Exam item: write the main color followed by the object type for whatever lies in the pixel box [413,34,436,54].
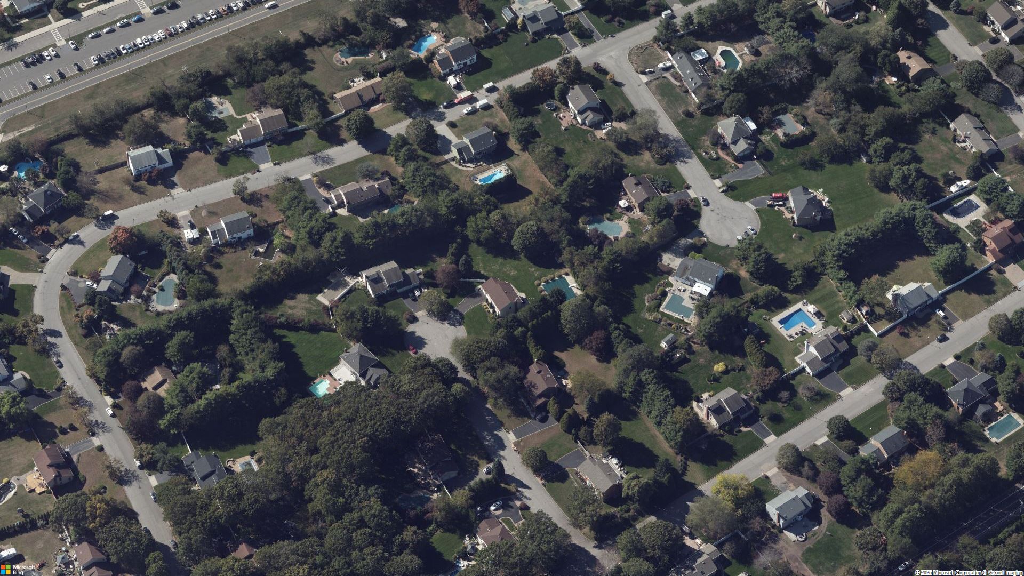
blue swimming pool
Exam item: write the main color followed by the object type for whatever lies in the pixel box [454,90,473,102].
white vehicle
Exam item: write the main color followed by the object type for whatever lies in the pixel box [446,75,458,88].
white vehicle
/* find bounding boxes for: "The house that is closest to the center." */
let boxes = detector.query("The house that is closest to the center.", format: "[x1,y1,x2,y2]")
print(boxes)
[480,275,522,318]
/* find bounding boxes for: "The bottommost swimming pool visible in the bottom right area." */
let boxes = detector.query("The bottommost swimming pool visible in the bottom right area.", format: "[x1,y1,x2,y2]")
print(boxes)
[989,414,1022,440]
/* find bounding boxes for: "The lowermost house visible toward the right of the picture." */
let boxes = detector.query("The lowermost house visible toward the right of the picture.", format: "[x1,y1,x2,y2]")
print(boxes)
[684,542,721,576]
